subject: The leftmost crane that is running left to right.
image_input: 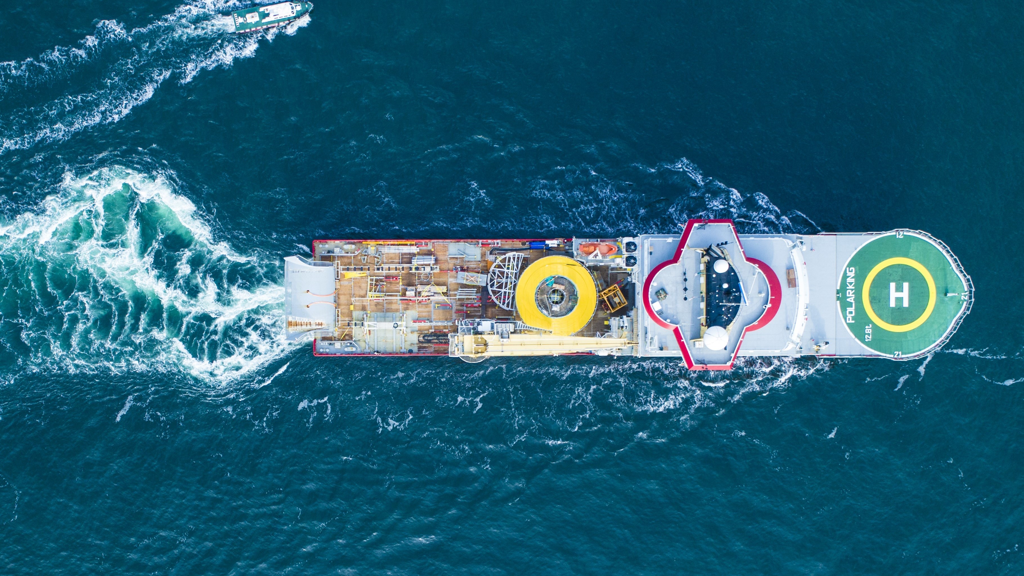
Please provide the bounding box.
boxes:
[448,318,639,363]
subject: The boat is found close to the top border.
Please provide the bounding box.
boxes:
[232,0,314,33]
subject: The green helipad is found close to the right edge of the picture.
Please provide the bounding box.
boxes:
[836,228,975,361]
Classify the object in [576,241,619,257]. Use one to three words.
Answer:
boat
